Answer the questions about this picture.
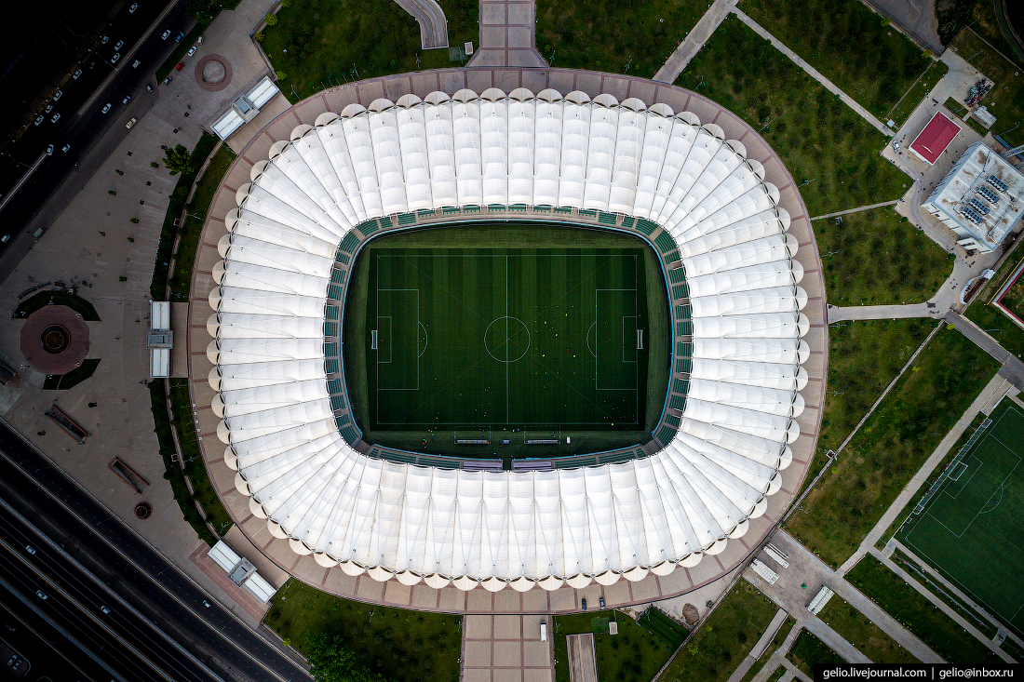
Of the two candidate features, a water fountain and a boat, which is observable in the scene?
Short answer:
water fountain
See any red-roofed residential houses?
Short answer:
Yes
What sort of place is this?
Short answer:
sports ground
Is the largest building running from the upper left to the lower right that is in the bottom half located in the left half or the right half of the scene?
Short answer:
left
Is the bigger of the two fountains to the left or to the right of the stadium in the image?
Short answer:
to the left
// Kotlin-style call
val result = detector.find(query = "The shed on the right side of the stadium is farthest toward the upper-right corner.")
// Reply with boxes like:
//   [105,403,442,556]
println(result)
[971,107,996,130]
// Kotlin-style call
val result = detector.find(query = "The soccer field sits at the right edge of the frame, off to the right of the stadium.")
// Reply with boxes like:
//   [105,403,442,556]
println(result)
[896,395,1024,640]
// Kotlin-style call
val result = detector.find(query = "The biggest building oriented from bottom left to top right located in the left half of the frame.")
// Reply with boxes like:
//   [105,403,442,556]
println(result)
[210,76,282,142]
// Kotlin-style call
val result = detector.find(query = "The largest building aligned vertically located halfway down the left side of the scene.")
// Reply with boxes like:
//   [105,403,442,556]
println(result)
[146,301,181,378]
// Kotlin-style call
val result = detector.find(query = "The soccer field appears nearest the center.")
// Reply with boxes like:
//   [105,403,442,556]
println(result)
[348,226,666,457]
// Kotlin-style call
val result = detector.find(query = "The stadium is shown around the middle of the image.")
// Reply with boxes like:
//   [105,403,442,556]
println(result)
[206,87,809,591]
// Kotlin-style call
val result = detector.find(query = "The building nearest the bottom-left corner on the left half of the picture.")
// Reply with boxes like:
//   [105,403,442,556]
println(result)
[208,538,279,604]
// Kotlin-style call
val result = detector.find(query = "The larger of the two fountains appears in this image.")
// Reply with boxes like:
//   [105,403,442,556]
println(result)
[21,306,88,374]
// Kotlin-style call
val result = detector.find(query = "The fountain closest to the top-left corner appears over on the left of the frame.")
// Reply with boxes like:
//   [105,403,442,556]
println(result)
[195,53,232,91]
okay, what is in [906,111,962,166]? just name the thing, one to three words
house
